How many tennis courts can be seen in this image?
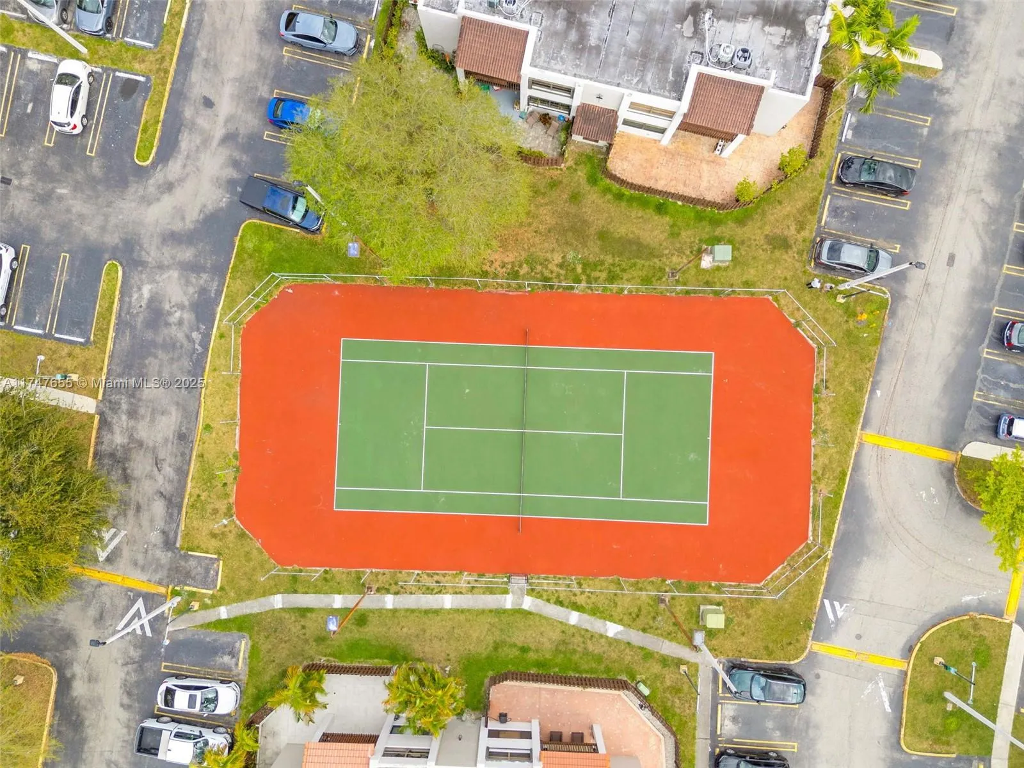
1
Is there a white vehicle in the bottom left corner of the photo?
Yes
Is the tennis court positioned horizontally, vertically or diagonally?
horizontally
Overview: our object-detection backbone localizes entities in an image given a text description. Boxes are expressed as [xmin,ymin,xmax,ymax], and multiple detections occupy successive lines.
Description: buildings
[418,0,840,156]
[275,715,641,768]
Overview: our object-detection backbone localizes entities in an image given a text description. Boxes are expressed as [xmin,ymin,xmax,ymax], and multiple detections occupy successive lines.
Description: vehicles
[74,0,114,34]
[50,62,94,132]
[996,415,1024,444]
[280,12,358,58]
[711,749,791,768]
[237,175,328,236]
[834,156,916,197]
[1000,323,1024,354]
[267,97,338,136]
[725,666,805,707]
[0,248,17,318]
[137,717,237,768]
[811,236,891,275]
[160,675,242,717]
[30,0,65,24]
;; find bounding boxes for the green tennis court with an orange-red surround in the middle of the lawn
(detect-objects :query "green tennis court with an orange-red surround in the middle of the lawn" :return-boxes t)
[233,284,817,585]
